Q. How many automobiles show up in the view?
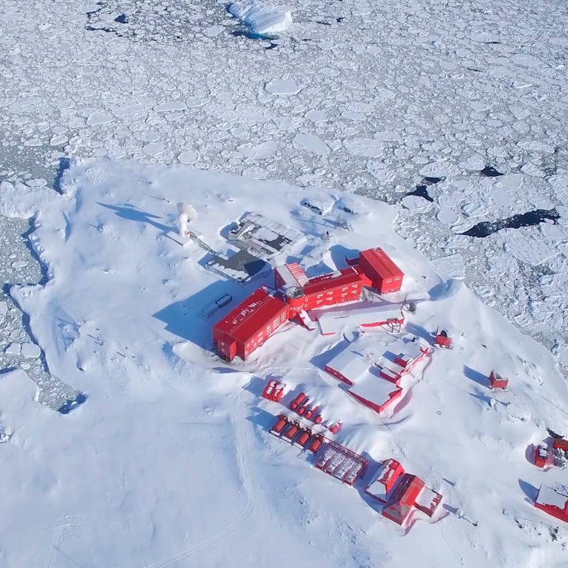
0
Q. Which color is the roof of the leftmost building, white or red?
red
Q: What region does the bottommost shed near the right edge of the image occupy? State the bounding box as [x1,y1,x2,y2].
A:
[535,485,568,524]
